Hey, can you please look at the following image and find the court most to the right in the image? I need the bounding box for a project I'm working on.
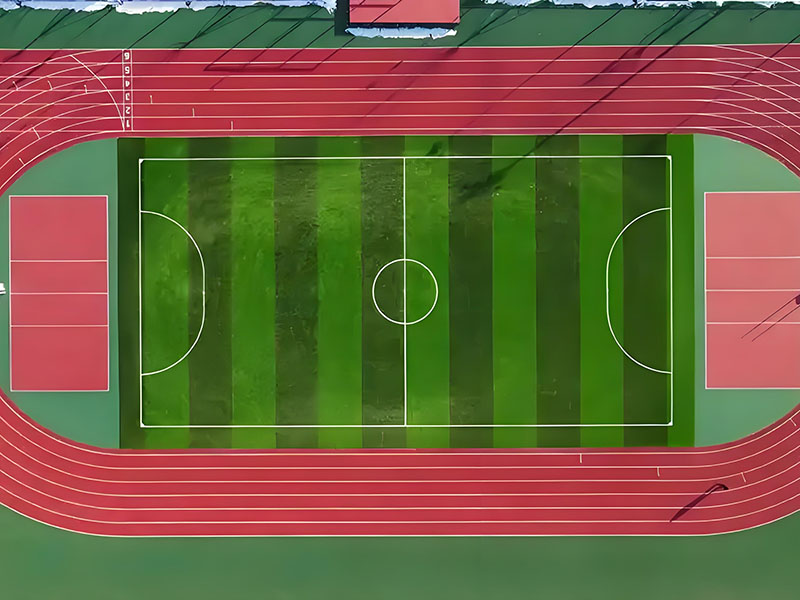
[705,191,800,388]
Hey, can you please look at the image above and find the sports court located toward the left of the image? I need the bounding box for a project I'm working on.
[9,195,109,391]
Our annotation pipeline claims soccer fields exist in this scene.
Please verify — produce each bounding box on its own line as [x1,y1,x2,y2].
[118,134,695,449]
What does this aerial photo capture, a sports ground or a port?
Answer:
sports ground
